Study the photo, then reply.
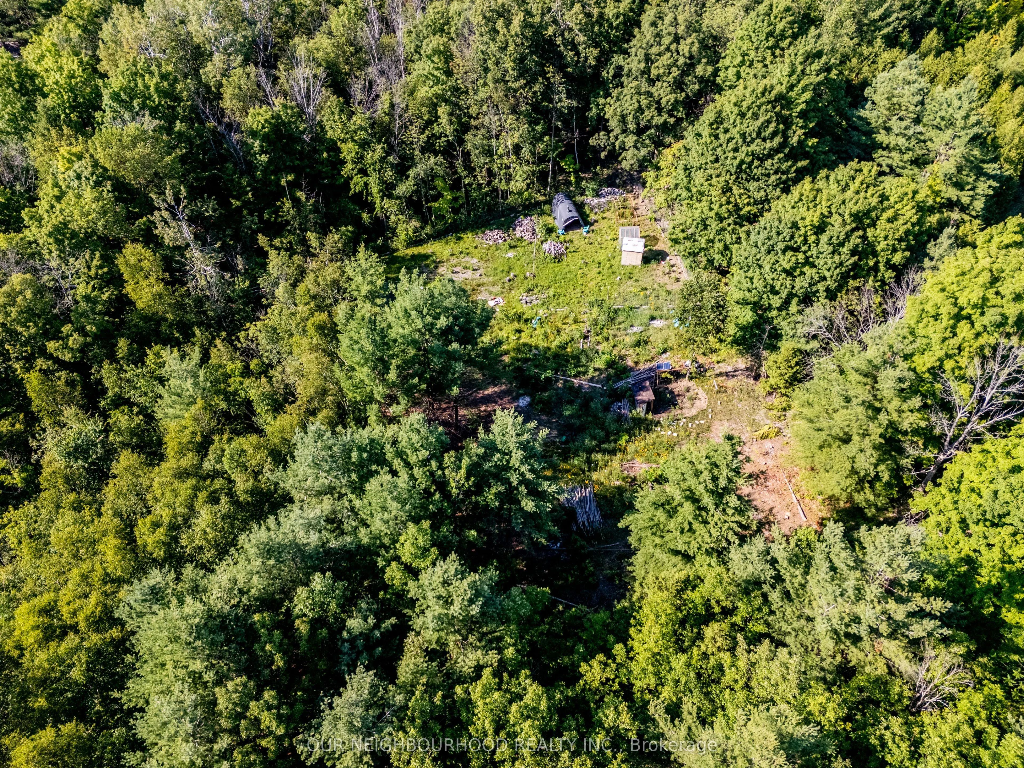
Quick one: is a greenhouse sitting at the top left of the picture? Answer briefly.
No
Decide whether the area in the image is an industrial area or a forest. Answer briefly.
forest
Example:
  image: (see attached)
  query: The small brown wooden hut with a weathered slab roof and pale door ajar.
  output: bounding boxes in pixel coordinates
[629,377,658,415]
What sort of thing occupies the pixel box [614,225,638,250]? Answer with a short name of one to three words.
greenhouse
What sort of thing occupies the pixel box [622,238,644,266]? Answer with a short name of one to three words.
shed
